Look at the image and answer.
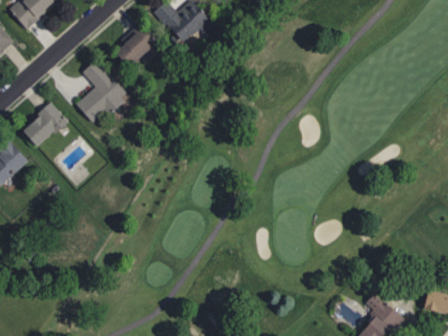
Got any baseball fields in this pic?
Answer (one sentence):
No, there appears to be no baseball field in this shot.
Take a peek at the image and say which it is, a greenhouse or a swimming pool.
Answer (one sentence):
The one in the frame is a swimming pool.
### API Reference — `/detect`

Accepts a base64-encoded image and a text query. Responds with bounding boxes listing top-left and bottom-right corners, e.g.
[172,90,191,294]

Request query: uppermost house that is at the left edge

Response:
[12,0,54,26]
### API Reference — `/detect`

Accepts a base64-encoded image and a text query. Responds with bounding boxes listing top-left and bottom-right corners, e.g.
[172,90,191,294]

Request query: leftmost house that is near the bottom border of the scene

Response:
[359,293,404,336]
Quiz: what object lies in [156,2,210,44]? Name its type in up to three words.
house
